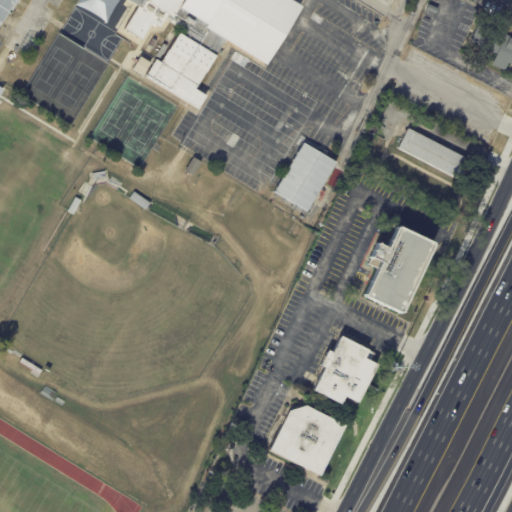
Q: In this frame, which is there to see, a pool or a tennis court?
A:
tennis court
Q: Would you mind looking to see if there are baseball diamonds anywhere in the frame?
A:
Yes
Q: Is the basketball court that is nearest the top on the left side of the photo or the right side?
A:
left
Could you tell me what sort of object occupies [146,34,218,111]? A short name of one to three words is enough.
building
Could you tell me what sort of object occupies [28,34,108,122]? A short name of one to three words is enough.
tennis court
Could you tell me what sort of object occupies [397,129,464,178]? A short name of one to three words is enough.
building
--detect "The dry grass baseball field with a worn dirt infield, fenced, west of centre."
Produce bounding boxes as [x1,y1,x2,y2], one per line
[8,182,252,402]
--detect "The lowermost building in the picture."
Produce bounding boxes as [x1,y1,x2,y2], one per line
[268,406,346,476]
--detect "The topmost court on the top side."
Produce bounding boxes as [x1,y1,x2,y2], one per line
[62,0,131,62]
